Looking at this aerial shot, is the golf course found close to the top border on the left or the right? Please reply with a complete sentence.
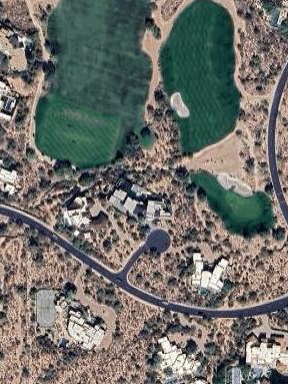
The golf course found close to the top border is on the right side of the image.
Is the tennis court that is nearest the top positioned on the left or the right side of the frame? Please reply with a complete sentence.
The tennis court that is nearest the top appears in the left half of the scene.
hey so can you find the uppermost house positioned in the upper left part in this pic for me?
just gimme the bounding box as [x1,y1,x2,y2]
[0,26,28,70]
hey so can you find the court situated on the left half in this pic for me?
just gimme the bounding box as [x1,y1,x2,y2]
[36,289,56,326]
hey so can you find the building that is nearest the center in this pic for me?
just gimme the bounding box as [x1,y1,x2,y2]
[104,183,172,222]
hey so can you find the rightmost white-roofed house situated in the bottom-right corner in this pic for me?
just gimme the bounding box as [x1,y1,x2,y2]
[241,335,288,375]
